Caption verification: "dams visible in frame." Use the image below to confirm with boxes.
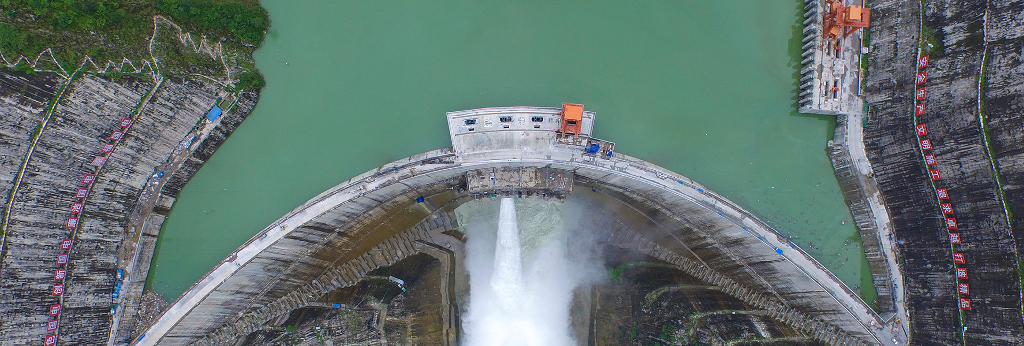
[126,106,897,346]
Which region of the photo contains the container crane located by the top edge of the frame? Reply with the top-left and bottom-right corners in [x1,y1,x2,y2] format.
[822,1,871,40]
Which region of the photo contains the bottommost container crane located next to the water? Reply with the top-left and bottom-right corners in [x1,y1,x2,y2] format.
[554,104,584,136]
